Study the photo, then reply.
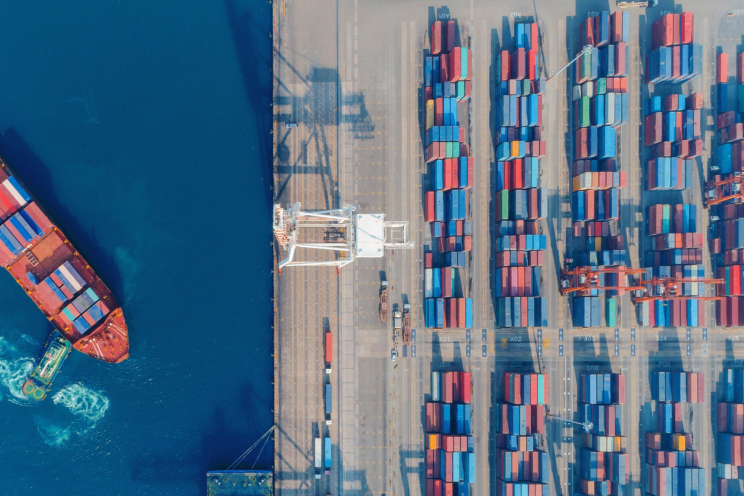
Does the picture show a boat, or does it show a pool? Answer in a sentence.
It is a boat that can be seen here.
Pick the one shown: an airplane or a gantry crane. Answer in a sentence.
This aerial view contains a gantry crane.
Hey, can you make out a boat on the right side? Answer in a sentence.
No, the scene shows no boat on the right side.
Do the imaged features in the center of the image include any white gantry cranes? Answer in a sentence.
Yes, the scene does show a white gantry crane in the center of the image.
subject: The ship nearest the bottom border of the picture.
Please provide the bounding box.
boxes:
[207,469,273,496]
